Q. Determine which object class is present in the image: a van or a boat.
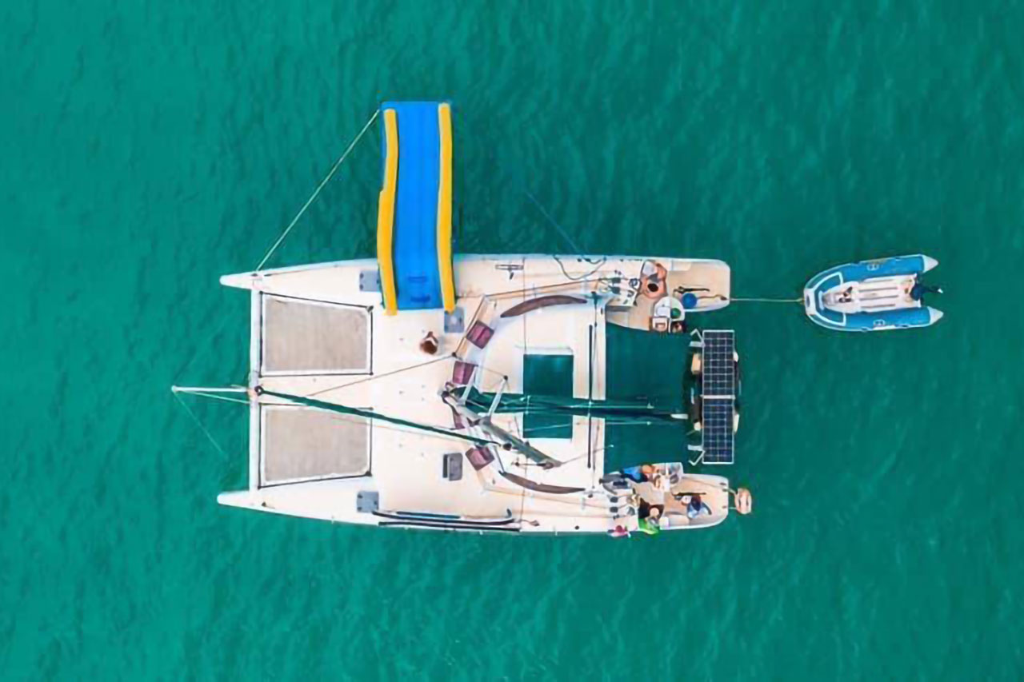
boat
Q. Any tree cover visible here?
No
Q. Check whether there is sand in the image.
No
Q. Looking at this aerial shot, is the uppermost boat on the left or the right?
right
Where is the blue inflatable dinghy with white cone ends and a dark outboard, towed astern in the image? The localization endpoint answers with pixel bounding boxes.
[804,255,944,333]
